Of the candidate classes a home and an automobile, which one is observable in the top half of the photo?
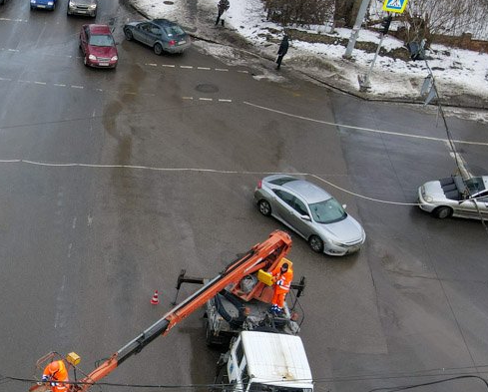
automobile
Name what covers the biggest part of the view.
paved ground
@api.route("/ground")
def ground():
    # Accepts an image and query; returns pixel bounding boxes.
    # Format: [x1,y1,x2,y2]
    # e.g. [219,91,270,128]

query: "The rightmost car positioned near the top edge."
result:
[123,16,194,55]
